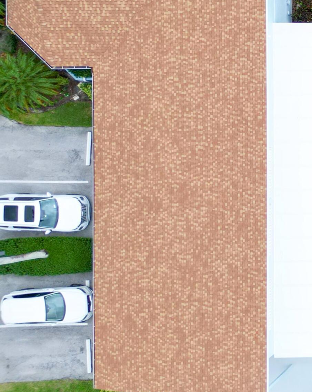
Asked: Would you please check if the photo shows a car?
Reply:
Yes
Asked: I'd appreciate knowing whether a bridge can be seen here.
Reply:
No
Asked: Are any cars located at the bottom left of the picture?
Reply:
Yes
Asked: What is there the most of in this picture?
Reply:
buildings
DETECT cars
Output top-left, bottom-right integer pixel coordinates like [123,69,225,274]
[0,191,91,237]
[0,283,91,328]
